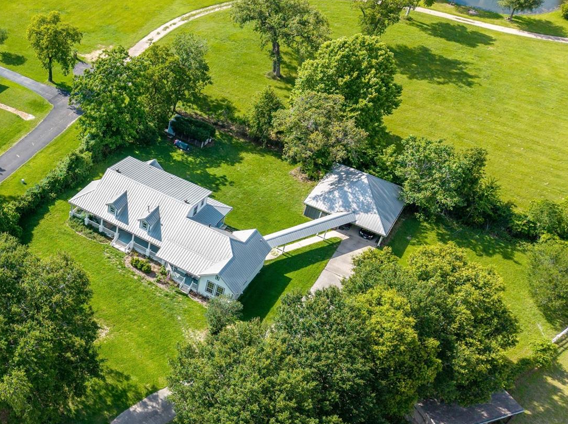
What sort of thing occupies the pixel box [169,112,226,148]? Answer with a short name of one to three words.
shed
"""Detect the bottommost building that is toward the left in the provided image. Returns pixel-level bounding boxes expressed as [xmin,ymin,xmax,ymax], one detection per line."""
[68,156,272,302]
